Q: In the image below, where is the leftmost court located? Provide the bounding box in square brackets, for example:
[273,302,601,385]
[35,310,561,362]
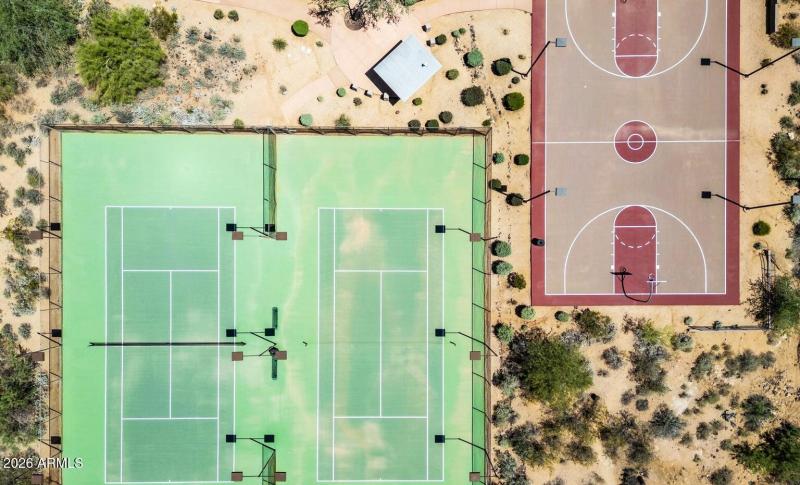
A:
[62,134,276,485]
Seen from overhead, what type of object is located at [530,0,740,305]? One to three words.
basketball court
